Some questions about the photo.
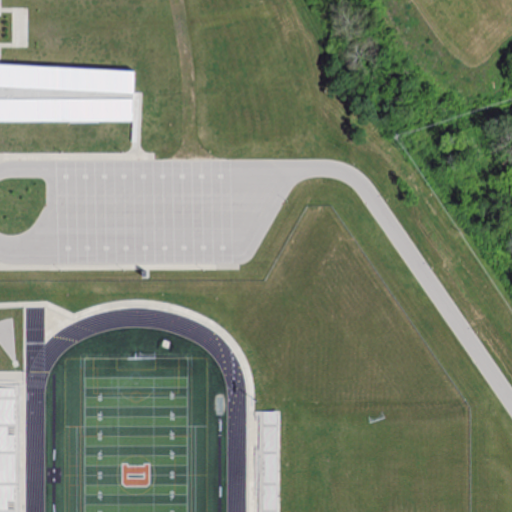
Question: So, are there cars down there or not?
No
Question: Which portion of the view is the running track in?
bottom left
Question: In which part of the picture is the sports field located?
bottom left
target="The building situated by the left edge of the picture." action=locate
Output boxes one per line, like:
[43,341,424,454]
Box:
[0,64,134,122]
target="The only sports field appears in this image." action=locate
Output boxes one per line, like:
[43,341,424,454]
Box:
[45,329,227,512]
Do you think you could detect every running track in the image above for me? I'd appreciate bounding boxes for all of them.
[26,308,246,512]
